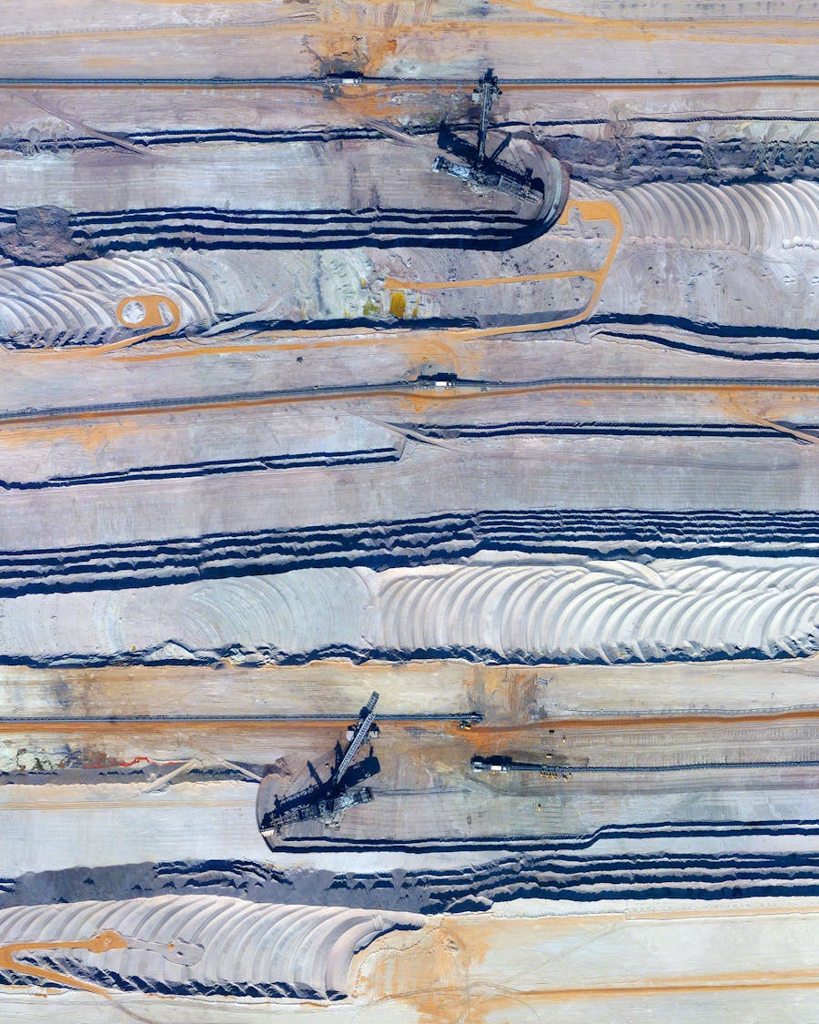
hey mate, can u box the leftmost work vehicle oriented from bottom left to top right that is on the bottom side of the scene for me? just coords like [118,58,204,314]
[255,719,375,836]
